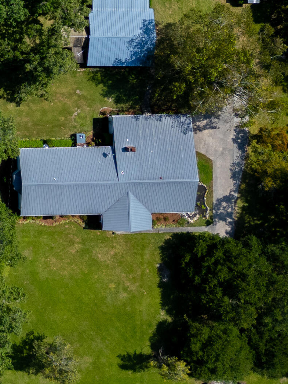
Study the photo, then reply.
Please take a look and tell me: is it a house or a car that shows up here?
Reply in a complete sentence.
This aerial view contains a house.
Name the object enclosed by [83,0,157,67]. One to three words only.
barn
